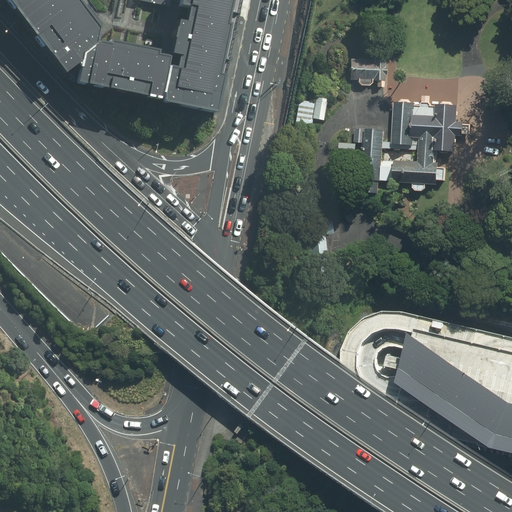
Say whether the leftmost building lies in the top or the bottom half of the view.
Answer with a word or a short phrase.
top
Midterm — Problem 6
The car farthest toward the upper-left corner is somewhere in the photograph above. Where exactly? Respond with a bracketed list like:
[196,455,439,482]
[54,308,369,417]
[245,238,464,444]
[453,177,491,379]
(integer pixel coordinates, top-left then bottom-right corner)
[34,80,50,95]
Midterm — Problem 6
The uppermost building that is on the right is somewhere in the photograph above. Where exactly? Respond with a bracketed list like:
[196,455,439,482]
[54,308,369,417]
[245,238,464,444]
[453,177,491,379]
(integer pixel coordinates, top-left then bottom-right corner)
[351,59,388,96]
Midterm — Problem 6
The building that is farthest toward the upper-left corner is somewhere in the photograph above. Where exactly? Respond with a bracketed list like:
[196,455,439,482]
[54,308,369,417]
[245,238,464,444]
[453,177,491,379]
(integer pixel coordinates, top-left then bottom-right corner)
[8,0,104,74]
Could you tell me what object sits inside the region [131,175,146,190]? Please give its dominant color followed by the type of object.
gray car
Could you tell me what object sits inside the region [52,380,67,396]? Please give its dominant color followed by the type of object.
white car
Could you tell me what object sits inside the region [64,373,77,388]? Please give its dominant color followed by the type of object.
white vehicle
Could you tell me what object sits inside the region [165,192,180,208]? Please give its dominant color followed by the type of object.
white car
